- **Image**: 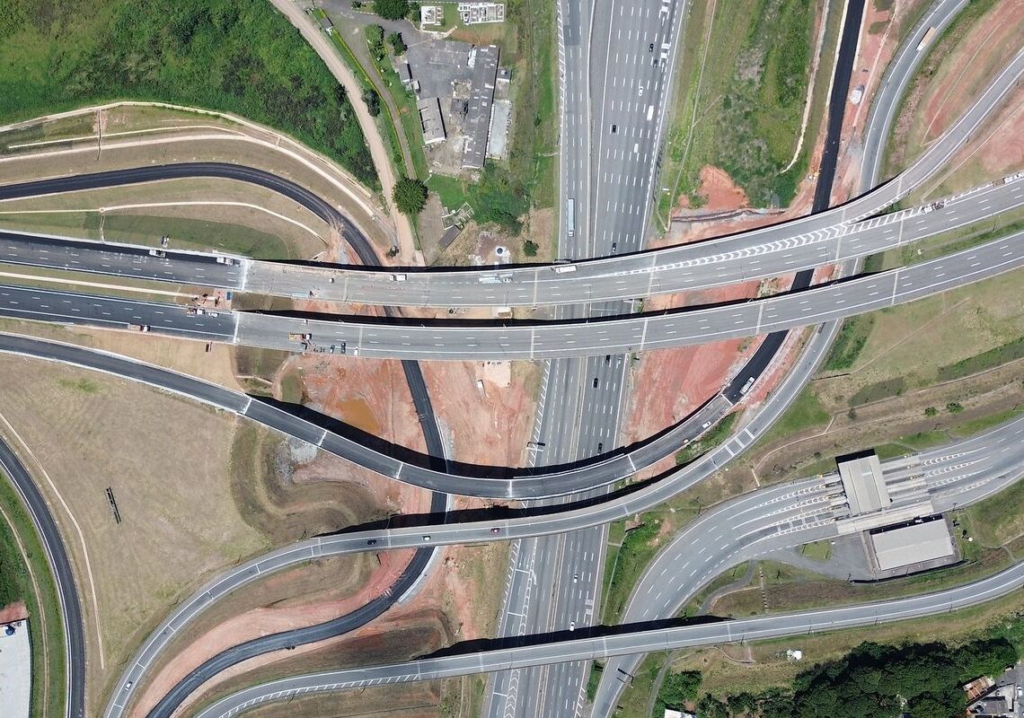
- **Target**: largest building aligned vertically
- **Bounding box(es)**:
[462,41,500,170]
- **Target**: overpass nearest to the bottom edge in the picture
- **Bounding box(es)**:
[418,622,734,681]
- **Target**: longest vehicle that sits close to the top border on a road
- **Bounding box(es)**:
[916,22,937,49]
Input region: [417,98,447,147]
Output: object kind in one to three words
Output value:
building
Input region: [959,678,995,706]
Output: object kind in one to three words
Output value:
house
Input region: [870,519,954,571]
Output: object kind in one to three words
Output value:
building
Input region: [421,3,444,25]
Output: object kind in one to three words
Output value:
house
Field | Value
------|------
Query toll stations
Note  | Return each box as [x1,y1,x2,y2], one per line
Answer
[820,453,924,521]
